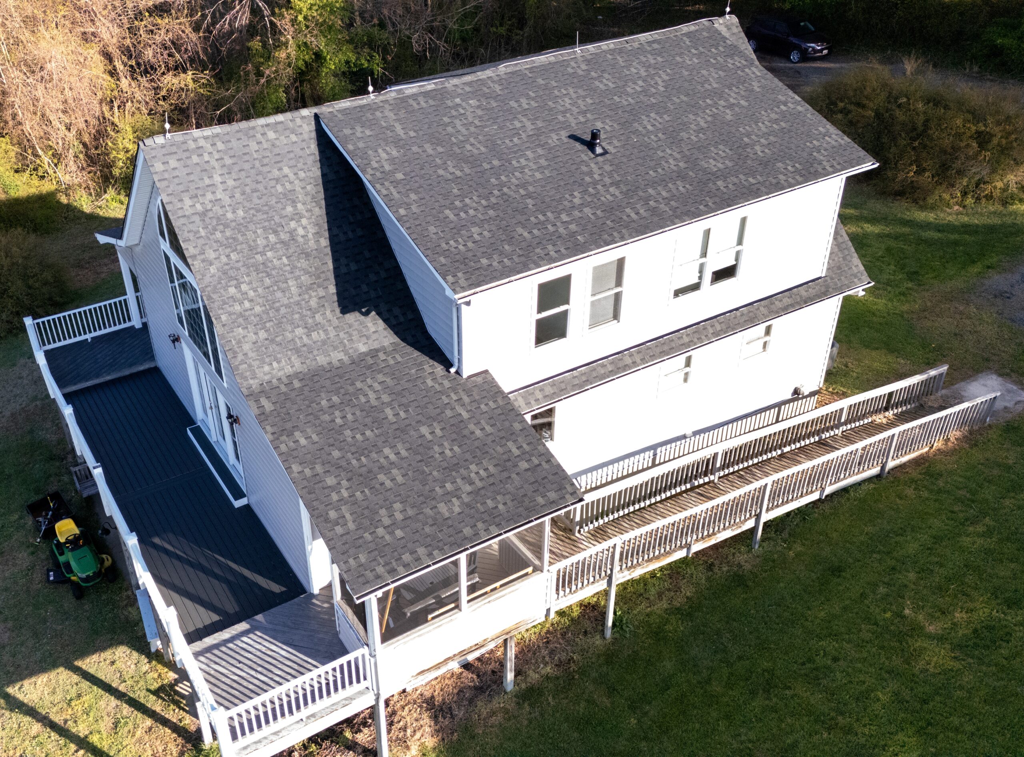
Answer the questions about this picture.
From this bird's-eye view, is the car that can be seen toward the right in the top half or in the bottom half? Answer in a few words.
top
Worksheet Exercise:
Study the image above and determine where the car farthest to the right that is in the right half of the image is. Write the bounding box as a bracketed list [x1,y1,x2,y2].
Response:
[747,13,836,63]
